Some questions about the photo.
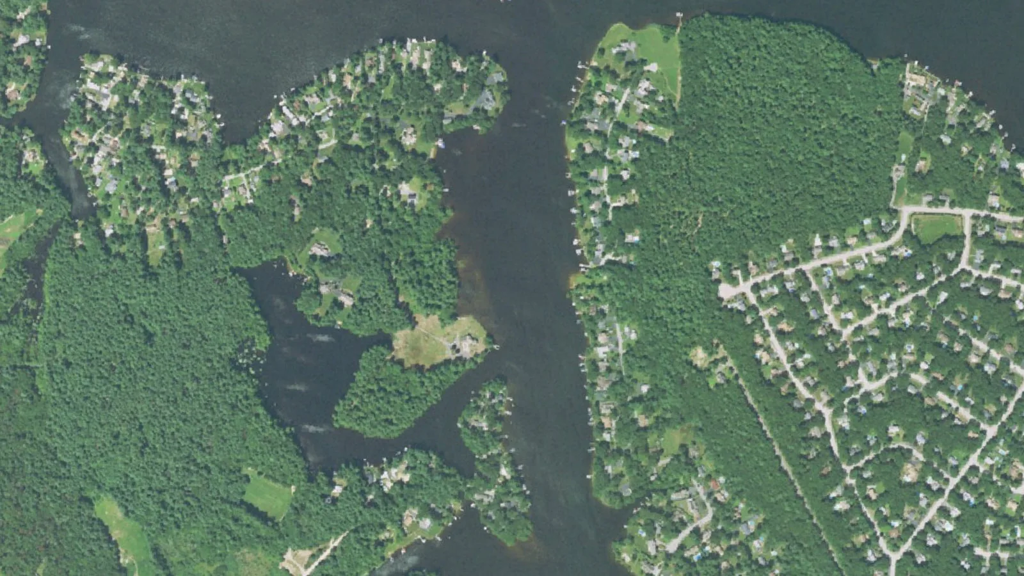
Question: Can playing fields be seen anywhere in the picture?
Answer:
Yes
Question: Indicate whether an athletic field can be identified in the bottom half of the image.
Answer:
Yes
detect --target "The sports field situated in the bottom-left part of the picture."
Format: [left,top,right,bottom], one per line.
[242,471,293,520]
